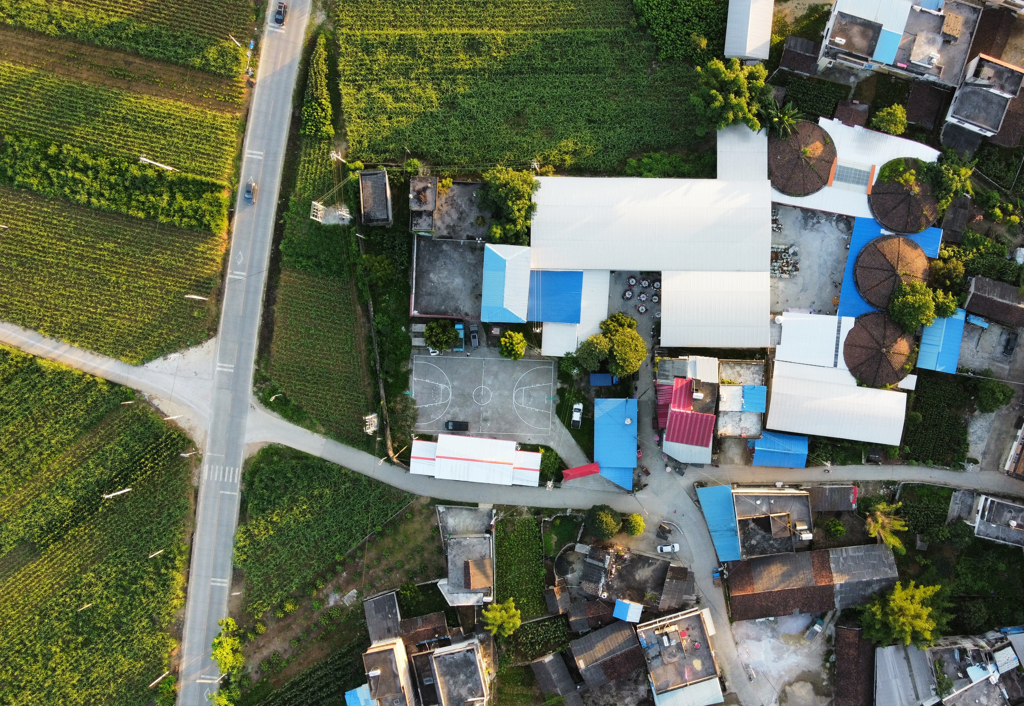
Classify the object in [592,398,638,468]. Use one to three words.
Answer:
shed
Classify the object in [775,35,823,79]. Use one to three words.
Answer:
house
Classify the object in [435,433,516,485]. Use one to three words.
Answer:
building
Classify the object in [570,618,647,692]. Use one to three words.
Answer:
barn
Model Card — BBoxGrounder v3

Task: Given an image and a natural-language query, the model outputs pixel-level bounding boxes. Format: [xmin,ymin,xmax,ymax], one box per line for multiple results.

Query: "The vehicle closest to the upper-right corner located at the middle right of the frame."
[1005,330,1022,357]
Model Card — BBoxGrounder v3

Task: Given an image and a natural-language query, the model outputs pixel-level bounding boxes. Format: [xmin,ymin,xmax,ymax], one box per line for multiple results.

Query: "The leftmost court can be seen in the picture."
[412,352,559,439]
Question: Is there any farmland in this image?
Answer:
Yes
